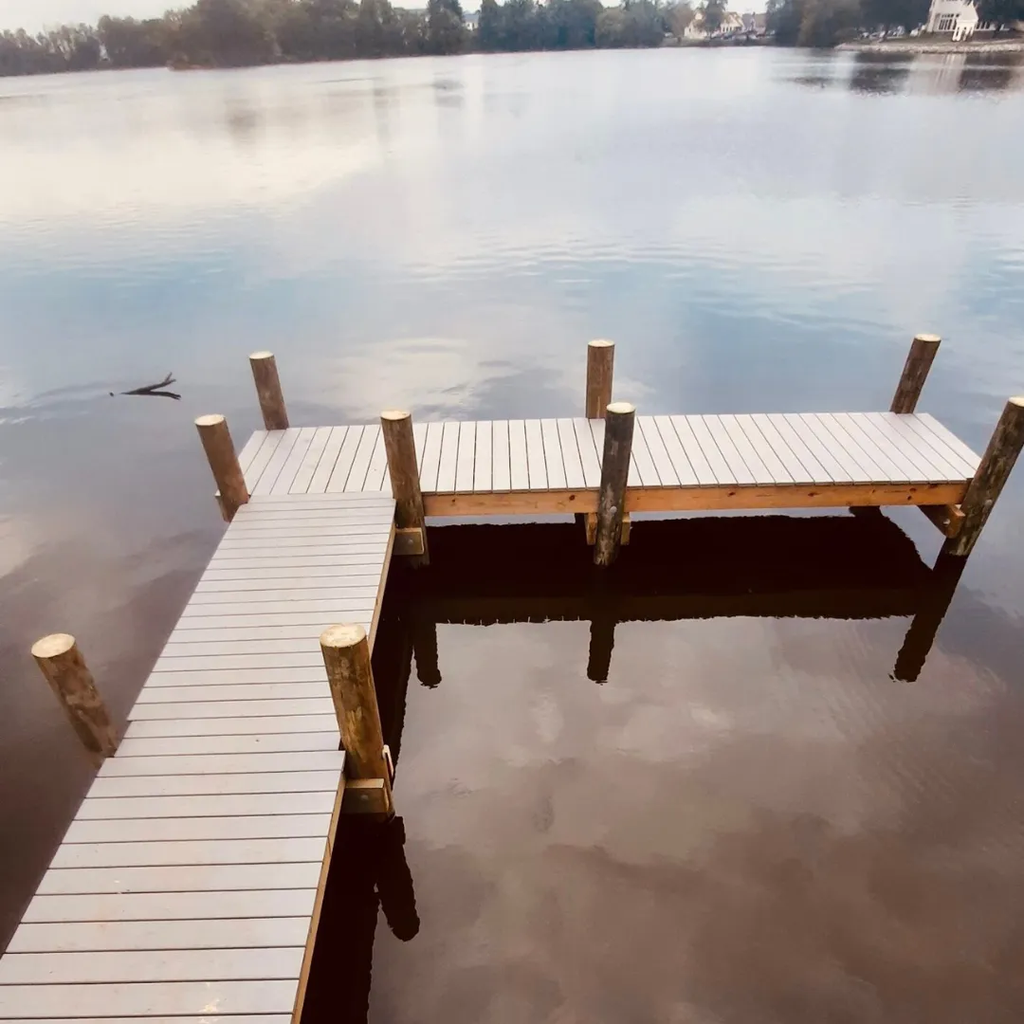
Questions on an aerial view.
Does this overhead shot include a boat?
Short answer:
No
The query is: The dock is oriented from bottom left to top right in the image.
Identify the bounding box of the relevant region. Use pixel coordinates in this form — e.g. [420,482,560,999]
[0,333,1024,1024]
